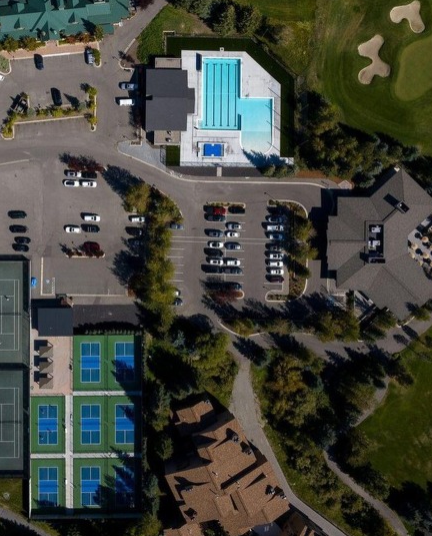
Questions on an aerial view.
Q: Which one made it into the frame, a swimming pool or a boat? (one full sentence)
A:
There is a swimming pool in the scene.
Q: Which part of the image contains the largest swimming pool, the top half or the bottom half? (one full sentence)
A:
The largest swimming pool sits in the top half of the picture.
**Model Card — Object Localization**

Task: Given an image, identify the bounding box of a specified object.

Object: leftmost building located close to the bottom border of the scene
[160,397,291,536]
